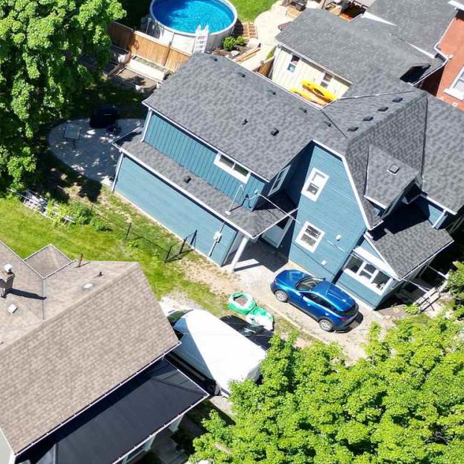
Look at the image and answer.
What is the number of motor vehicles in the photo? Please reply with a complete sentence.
Altogether the scene contains 2 motor vehicles.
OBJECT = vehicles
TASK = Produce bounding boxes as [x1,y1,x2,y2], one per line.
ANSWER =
[270,276,364,328]
[166,302,260,392]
